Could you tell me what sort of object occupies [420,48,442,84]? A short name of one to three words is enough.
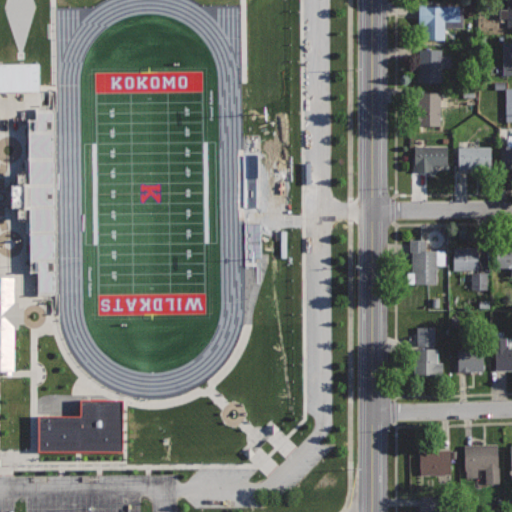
house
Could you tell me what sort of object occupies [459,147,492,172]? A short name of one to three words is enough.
house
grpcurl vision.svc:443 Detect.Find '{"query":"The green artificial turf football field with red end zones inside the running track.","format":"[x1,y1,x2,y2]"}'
[81,14,222,372]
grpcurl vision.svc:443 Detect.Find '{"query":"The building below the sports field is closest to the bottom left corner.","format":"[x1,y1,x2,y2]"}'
[38,402,124,458]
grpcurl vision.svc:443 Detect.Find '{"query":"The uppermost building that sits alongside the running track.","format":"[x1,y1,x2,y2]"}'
[0,64,40,92]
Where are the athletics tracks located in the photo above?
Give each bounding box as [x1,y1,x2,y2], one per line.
[56,0,246,397]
